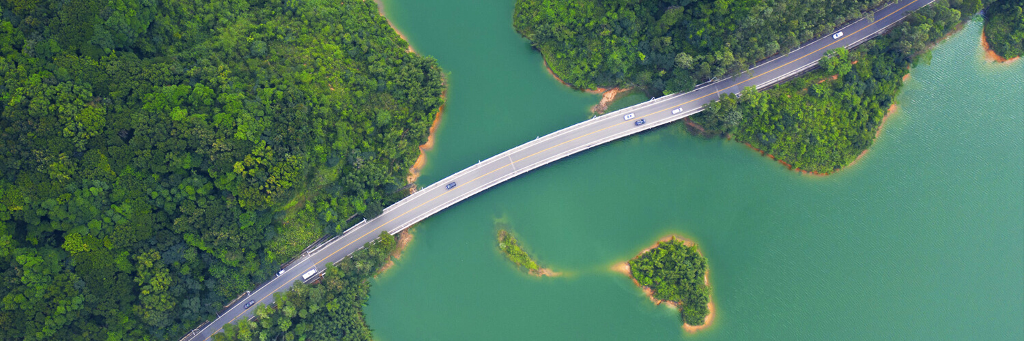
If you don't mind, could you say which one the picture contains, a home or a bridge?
bridge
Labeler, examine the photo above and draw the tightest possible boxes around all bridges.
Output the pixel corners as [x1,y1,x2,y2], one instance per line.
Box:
[303,80,722,279]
